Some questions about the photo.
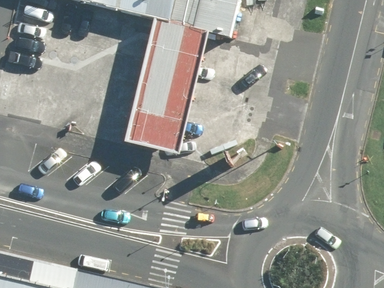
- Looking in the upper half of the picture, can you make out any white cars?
Yes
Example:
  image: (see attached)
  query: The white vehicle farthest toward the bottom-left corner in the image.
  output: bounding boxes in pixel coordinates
[78,252,112,271]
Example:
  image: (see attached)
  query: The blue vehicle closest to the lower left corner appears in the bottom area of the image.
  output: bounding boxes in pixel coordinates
[17,183,46,200]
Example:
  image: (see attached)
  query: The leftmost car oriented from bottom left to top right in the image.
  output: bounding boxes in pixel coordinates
[38,148,67,174]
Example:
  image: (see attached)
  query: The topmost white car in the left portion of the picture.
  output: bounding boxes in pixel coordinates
[22,4,54,22]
